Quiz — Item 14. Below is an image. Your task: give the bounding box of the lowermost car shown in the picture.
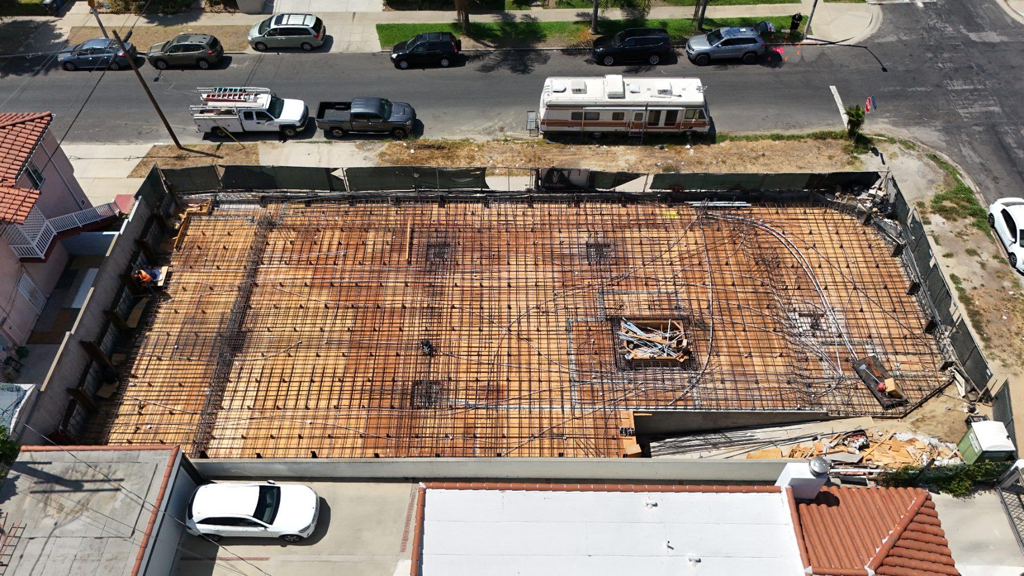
[184,475,320,540]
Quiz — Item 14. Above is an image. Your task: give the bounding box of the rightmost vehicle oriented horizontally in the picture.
[683,17,786,64]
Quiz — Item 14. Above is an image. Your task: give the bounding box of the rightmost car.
[986,199,1024,275]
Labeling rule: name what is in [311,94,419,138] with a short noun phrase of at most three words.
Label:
truck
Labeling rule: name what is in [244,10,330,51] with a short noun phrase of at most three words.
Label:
car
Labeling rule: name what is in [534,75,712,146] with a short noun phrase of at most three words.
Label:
camper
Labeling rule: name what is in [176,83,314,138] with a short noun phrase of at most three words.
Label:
truck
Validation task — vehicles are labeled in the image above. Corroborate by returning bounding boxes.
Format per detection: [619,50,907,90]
[244,10,330,51]
[54,35,141,71]
[534,75,712,146]
[311,94,419,138]
[590,23,674,65]
[986,199,1024,275]
[387,29,465,68]
[145,30,227,69]
[176,83,314,138]
[184,475,320,540]
[683,17,786,64]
